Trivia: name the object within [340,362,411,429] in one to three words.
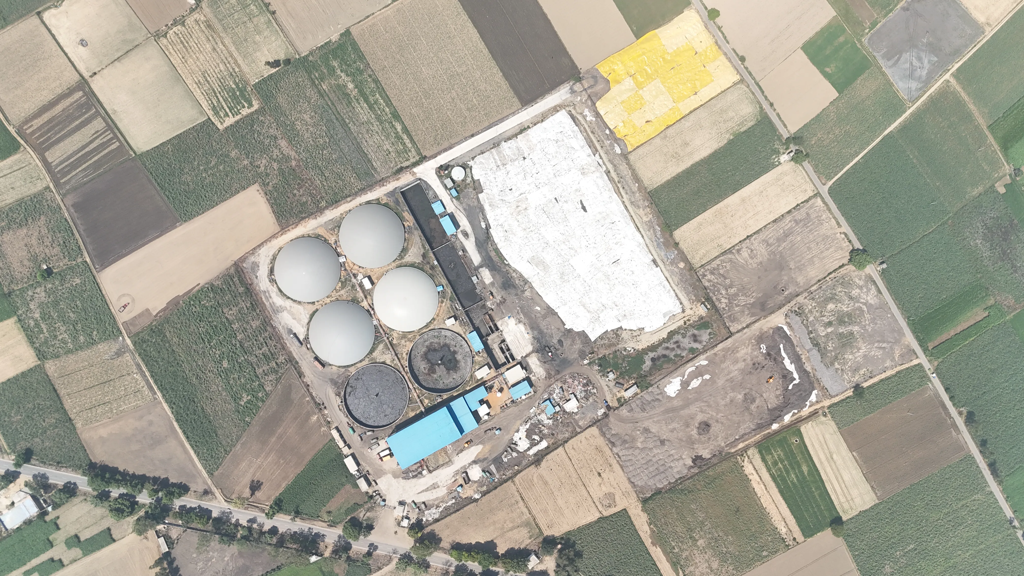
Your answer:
storage tank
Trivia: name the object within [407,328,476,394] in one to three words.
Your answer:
storage tank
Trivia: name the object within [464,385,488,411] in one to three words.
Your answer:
shed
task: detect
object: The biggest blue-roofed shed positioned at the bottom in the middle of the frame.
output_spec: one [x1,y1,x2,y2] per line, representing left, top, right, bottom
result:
[387,404,462,469]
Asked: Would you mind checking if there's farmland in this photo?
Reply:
Yes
